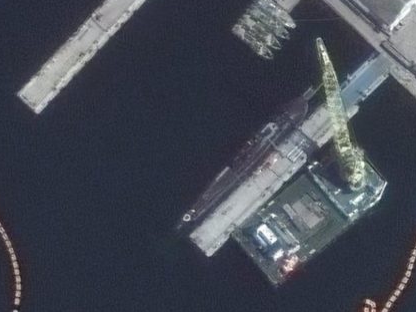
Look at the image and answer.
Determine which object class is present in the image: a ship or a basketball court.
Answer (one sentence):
This aerial view contains a ship.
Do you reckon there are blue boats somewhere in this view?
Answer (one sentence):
No, this view has no blue boat in it.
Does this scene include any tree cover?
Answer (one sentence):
No, there is no tree cover in the image.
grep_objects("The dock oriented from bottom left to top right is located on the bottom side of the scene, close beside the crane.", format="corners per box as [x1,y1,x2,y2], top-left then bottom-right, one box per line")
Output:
[191,126,318,256]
